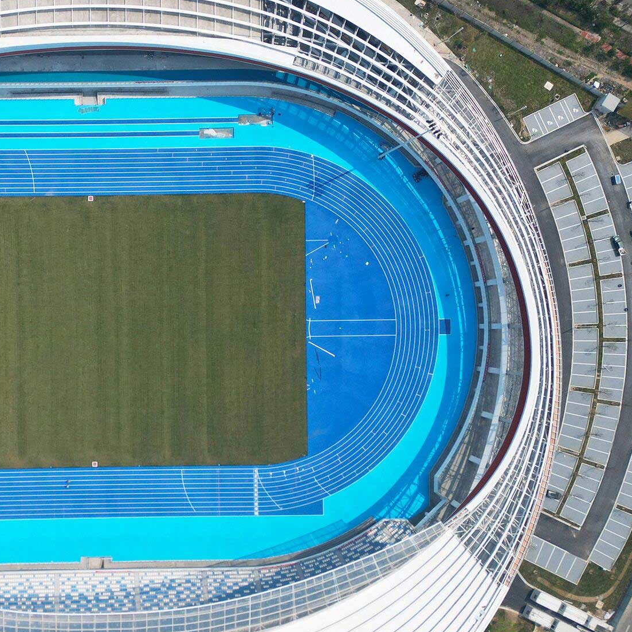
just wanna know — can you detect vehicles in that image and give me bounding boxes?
[612,234,630,257]
[546,489,564,501]
[611,170,625,187]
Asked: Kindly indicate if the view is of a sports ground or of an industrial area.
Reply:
sports ground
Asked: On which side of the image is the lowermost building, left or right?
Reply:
right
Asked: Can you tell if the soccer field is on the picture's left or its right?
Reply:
left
